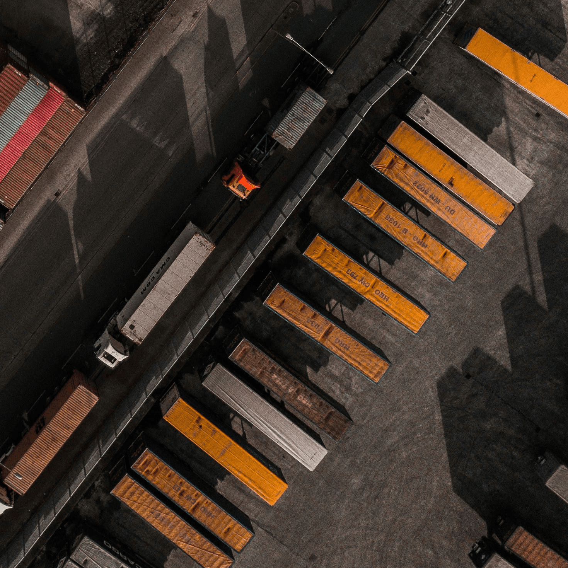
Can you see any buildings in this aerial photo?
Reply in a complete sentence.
No, there appears to be no building in this shot.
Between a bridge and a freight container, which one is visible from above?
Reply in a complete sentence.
This aerial view contains a freight container.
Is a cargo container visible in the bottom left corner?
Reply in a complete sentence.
Yes, a cargo container is visible in the bottom left corner.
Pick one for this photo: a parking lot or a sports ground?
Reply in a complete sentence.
The picture captures a parking lot.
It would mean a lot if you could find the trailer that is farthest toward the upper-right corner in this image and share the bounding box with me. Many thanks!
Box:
[451,23,568,125]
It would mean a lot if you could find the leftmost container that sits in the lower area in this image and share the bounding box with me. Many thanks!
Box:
[2,368,97,492]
